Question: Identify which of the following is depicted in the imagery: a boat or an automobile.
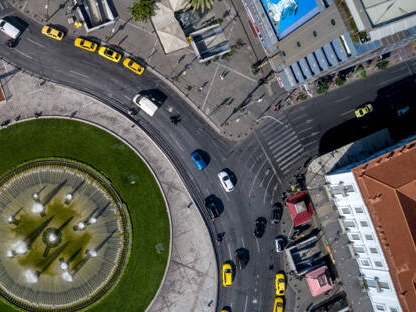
automobile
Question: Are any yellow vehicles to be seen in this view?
Yes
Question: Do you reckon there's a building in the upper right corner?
Yes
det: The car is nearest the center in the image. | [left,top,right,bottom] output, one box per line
[191,151,207,171]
